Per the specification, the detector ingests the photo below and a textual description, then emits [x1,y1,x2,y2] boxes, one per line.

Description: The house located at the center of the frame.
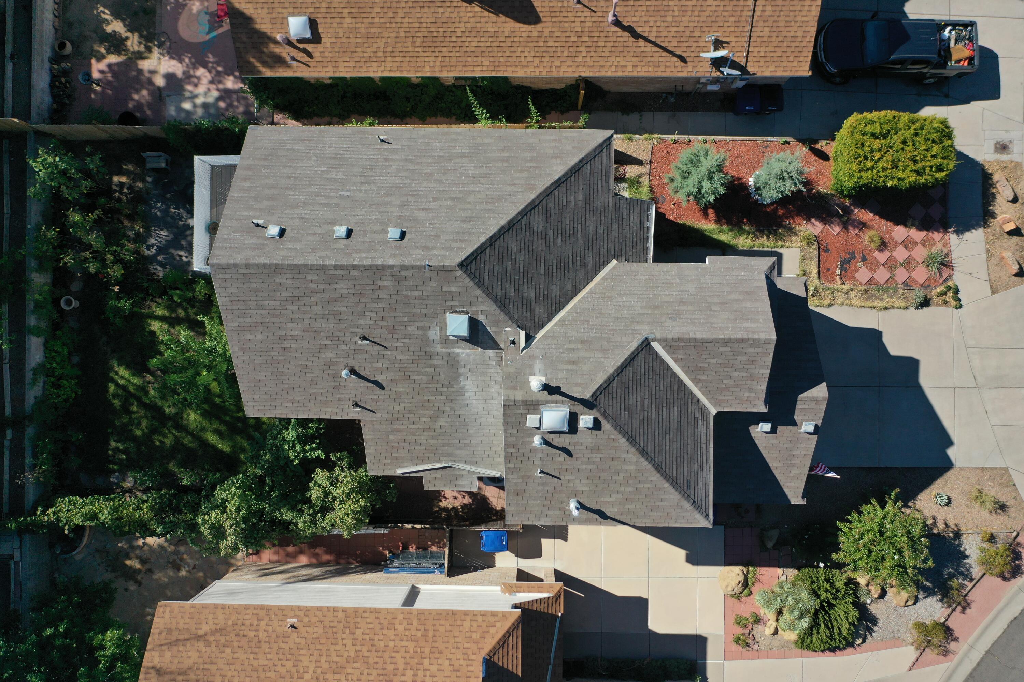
[192,125,828,530]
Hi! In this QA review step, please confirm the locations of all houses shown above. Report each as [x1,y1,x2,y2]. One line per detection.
[137,563,565,682]
[227,0,825,98]
[192,125,828,530]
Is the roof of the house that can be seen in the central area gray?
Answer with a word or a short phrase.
Yes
